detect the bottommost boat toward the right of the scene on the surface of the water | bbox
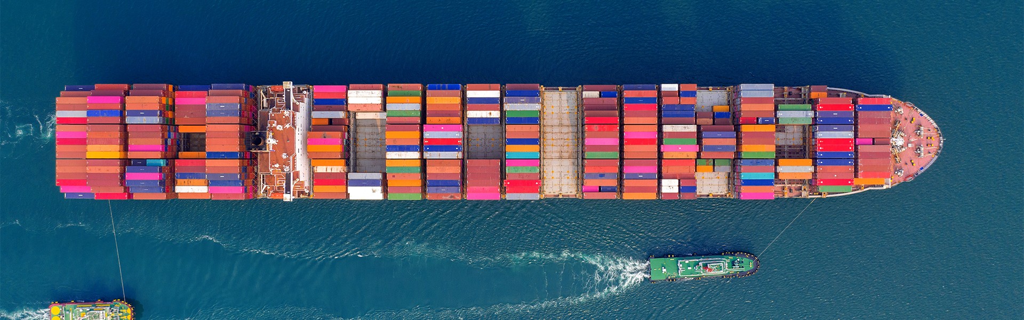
[648,251,761,283]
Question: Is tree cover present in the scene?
No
